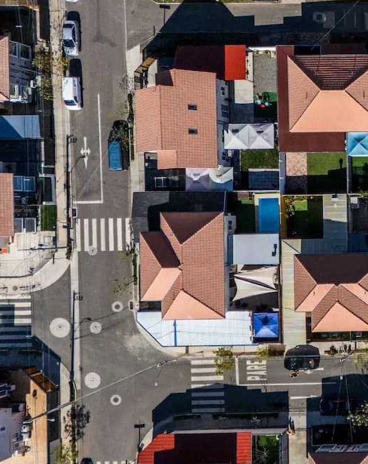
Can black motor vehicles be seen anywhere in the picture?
Yes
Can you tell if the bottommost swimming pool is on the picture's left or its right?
right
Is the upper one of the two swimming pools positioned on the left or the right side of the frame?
right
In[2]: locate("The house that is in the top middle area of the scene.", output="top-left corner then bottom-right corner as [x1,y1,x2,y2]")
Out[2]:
[134,64,234,171]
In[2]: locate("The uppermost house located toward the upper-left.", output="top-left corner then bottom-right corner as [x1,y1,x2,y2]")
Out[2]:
[0,34,36,103]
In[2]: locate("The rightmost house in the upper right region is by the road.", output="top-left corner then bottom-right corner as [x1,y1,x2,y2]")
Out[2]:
[288,54,368,133]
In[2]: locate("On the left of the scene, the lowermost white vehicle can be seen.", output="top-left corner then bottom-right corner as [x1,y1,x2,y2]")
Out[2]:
[62,75,85,112]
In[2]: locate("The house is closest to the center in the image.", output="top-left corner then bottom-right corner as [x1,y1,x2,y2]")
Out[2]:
[138,211,241,321]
